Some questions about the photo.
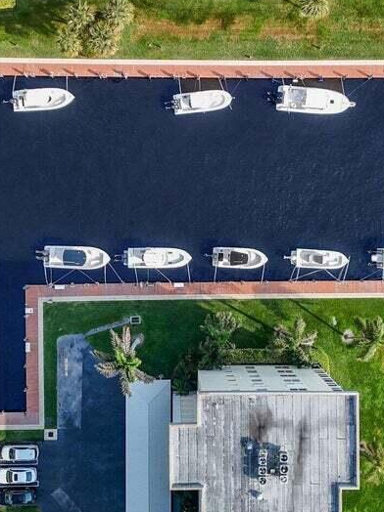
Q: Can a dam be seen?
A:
No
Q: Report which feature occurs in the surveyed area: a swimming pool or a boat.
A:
boat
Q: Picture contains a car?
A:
Yes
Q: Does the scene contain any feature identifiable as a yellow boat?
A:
No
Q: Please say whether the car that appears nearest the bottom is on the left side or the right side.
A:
left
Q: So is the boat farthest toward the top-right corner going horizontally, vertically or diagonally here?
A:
horizontally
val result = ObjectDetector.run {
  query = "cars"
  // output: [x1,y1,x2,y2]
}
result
[0,466,38,485]
[0,487,37,507]
[0,444,40,462]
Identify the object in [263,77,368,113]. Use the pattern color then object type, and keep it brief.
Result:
white boat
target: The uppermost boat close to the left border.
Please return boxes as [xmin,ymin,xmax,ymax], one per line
[0,76,75,111]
